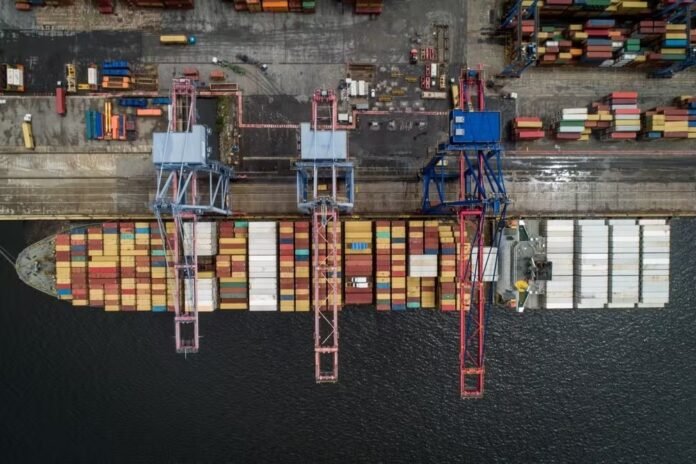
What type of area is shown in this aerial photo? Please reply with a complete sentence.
It's a port.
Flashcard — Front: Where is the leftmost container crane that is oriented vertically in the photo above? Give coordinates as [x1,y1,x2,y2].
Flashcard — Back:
[150,76,253,358]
